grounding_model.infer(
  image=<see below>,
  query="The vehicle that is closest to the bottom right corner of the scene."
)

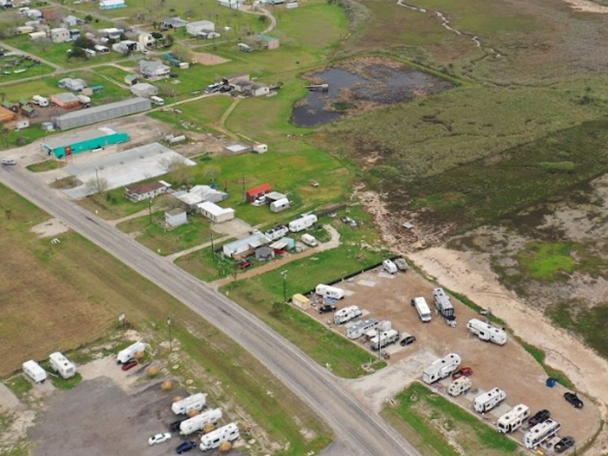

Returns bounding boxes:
[553,435,576,454]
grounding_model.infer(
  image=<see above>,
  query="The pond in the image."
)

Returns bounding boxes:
[291,57,450,127]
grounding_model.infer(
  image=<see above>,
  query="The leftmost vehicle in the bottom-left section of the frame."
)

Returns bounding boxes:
[23,357,46,382]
